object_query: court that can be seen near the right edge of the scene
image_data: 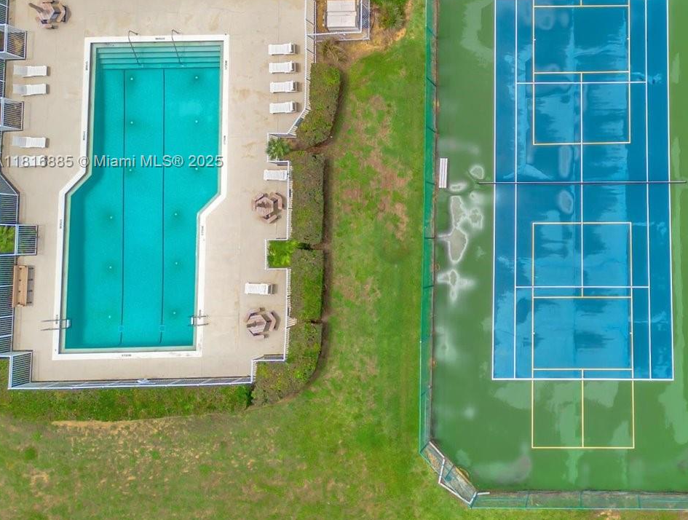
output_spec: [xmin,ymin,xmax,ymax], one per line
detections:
[430,0,688,495]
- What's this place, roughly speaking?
sports ground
